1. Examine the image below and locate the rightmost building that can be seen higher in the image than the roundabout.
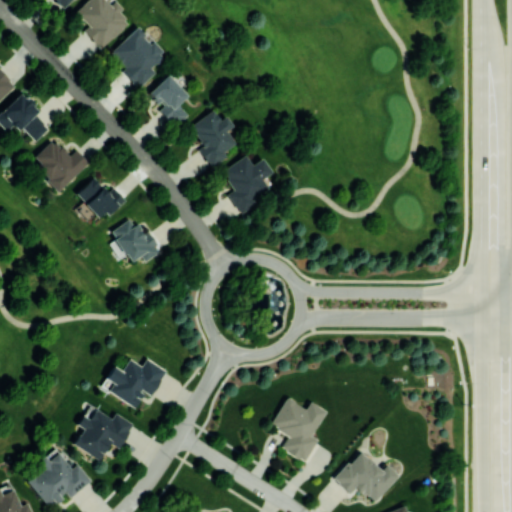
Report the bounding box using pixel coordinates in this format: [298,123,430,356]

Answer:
[226,156,274,215]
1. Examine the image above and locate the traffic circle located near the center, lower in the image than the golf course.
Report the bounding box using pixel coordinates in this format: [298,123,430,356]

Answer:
[200,246,309,366]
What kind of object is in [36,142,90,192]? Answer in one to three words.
house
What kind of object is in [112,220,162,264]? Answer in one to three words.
house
